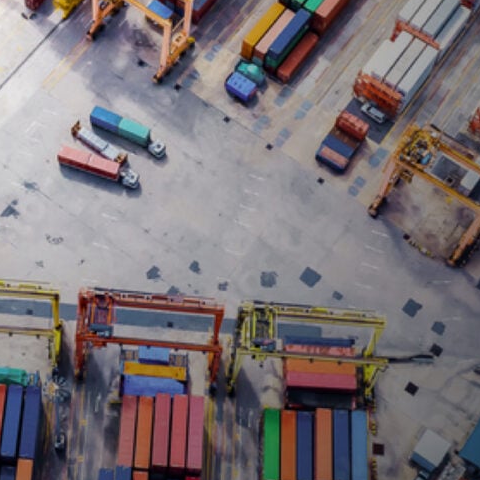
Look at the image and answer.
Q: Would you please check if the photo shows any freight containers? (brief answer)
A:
Yes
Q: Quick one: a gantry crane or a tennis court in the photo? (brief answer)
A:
gantry crane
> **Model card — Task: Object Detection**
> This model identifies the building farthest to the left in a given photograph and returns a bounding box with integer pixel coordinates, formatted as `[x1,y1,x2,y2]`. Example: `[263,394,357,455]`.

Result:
[410,426,454,472]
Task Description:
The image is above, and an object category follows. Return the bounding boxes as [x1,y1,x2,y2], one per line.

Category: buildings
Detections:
[410,426,454,472]
[452,406,480,480]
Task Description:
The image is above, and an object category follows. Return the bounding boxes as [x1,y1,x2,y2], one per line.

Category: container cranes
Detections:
[361,123,480,274]
[0,279,63,389]
[225,294,443,415]
[73,282,228,402]
[86,0,197,88]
